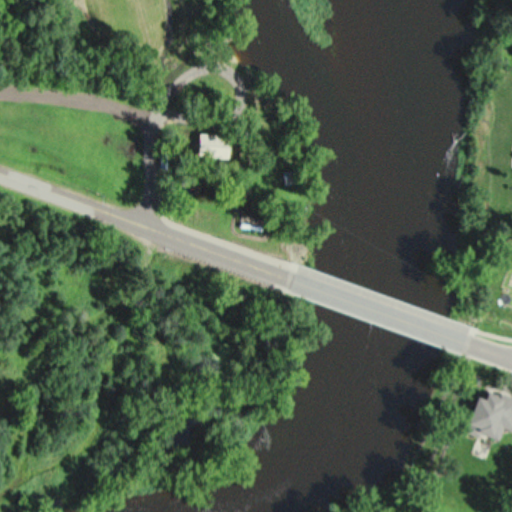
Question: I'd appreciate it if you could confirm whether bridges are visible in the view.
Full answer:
Yes, the frame does contain a bridge.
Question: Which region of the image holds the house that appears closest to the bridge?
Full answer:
The house that appears closest to the bridge is in the bottom right part of the image.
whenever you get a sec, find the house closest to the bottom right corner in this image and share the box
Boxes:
[470,386,512,443]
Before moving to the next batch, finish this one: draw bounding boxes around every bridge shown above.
[283,261,477,357]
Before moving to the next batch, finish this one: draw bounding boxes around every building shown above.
[199,132,232,160]
[470,386,512,443]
